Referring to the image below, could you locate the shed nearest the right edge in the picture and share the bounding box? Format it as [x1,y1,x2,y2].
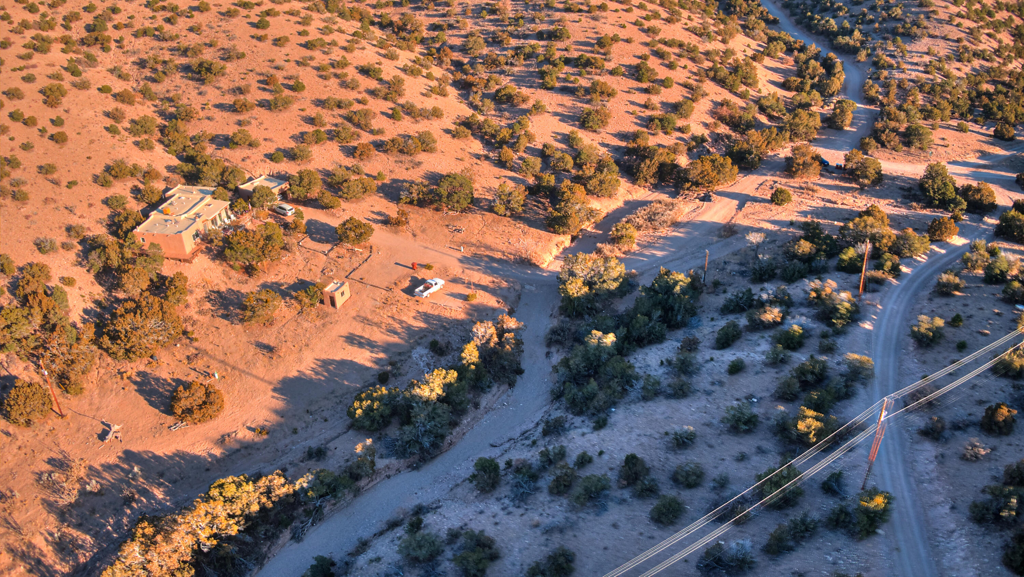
[324,281,348,308]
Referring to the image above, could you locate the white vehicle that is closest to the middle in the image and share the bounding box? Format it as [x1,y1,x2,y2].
[416,278,446,298]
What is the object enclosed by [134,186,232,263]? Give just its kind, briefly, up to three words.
house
